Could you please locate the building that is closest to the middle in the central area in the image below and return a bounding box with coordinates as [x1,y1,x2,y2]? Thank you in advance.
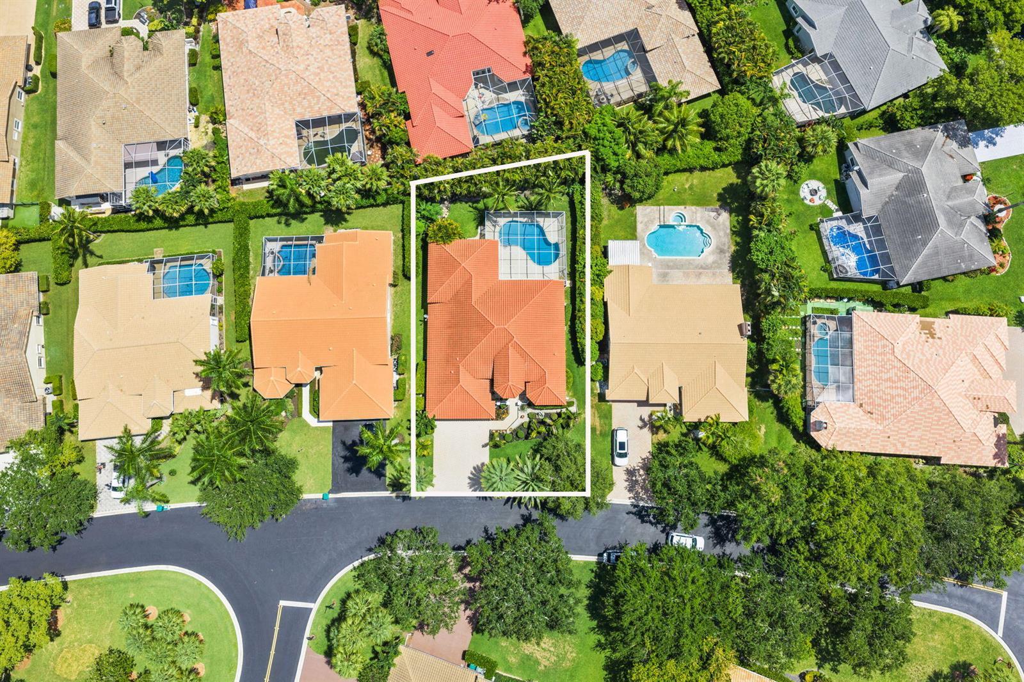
[423,239,566,419]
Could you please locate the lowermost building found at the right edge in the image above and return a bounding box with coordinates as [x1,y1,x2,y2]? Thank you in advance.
[800,311,1017,467]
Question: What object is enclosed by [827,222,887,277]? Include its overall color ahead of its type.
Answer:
blue swimming pool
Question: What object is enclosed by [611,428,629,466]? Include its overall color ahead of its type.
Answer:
white car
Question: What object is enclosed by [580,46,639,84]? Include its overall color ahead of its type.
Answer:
blue swimming pool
